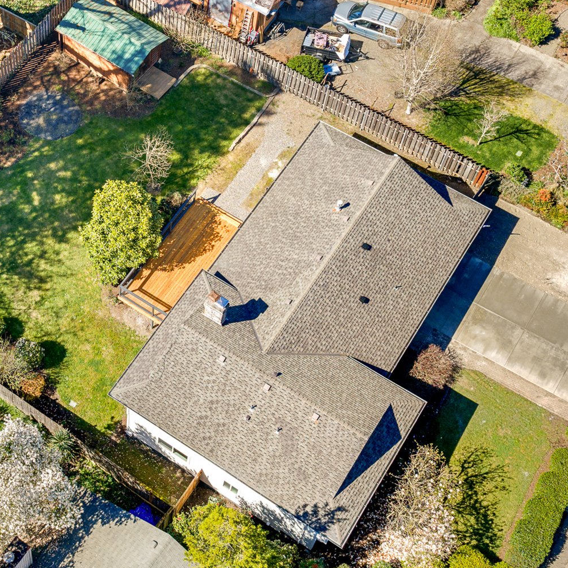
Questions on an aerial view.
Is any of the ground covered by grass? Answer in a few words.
Yes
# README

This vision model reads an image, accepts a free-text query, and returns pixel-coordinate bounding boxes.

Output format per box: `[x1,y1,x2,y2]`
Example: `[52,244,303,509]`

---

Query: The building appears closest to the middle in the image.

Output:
[105,121,496,552]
